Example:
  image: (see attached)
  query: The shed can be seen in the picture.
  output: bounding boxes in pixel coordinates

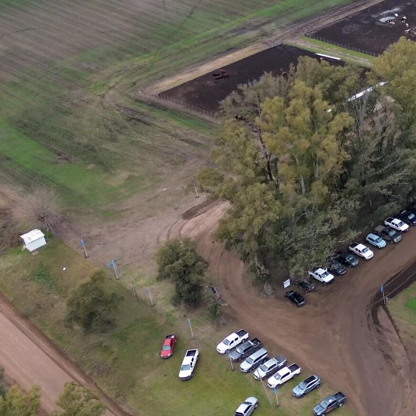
[18,225,46,251]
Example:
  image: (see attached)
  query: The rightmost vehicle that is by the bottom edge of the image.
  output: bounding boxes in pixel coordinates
[314,388,348,416]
